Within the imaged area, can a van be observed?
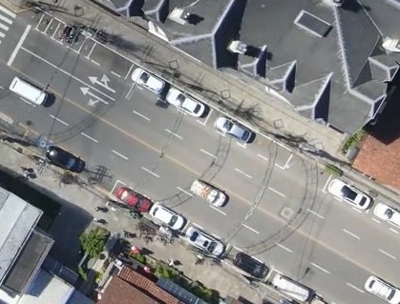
Yes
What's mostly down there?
paved ground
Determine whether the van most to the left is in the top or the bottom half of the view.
top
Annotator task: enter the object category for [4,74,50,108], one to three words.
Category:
van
